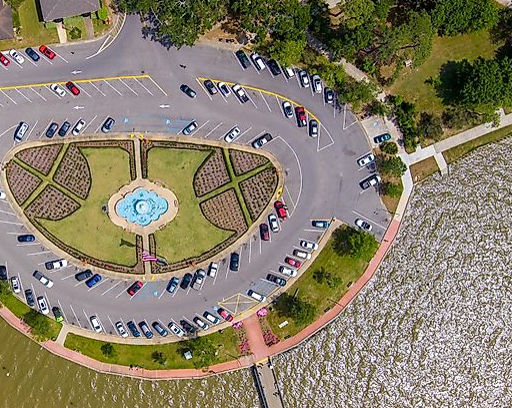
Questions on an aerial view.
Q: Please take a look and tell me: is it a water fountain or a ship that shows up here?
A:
water fountain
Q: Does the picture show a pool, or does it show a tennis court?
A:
pool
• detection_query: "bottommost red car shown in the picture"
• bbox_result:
[216,306,234,322]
